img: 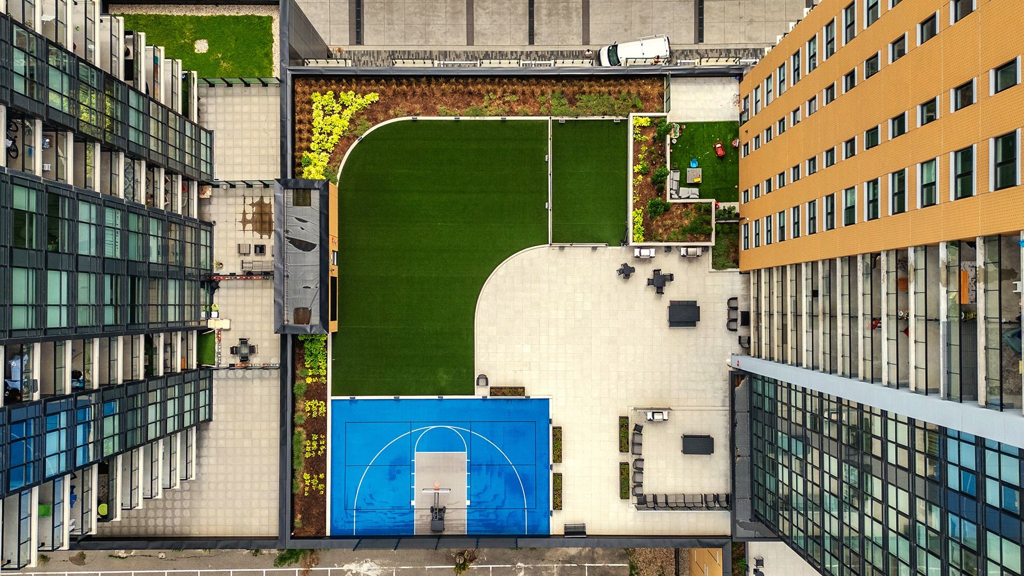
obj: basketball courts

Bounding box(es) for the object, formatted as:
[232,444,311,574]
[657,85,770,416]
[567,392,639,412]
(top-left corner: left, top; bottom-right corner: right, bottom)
[331,399,550,535]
